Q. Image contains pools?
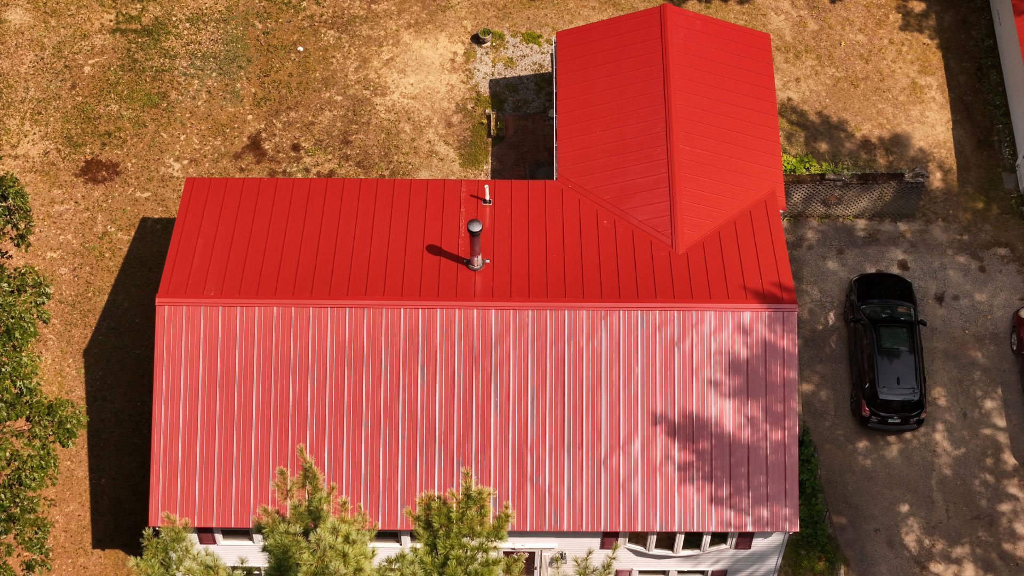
No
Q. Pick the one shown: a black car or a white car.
black car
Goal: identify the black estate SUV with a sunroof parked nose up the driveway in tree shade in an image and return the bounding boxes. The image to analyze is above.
[844,272,928,434]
